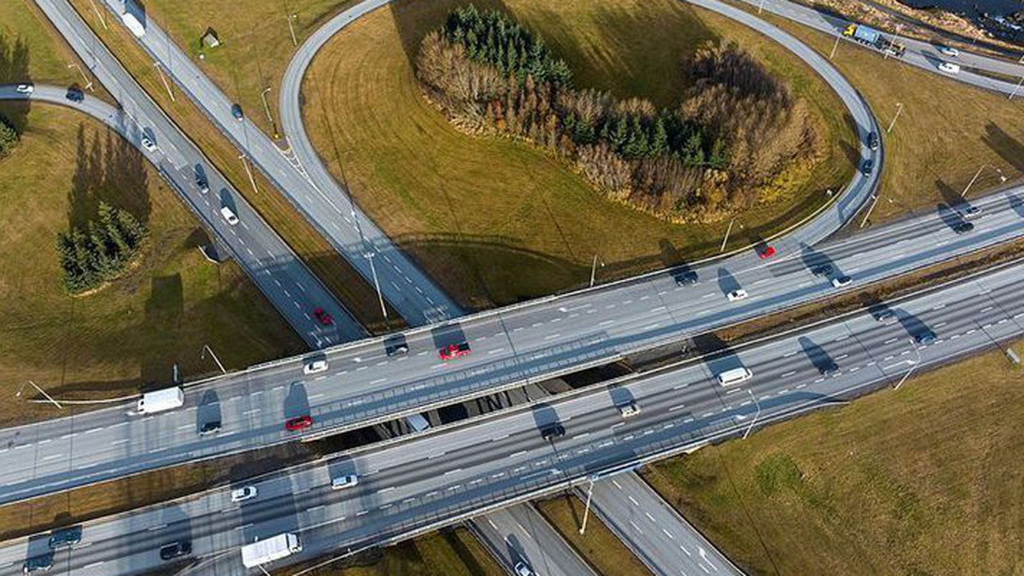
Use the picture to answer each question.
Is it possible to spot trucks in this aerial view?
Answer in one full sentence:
Yes, there is a truck in the image.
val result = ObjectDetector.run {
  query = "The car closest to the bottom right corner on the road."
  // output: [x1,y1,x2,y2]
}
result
[913,331,936,344]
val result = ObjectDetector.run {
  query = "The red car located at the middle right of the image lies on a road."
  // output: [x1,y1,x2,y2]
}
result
[756,246,776,260]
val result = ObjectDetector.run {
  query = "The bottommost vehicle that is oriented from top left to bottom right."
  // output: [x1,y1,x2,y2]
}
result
[509,553,534,576]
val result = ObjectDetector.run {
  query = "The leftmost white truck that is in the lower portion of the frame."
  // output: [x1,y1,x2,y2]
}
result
[136,386,187,416]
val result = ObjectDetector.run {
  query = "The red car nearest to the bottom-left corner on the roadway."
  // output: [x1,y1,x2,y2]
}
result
[285,415,313,431]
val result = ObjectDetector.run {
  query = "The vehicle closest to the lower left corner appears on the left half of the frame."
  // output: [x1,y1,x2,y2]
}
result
[22,553,56,573]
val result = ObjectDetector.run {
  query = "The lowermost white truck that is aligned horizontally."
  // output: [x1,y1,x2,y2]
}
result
[239,532,306,567]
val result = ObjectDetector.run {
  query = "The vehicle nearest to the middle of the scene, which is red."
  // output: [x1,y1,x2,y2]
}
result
[441,343,469,359]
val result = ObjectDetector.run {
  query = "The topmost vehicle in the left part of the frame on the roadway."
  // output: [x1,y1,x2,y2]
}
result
[122,13,145,36]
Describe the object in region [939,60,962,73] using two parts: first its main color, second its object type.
white vehicle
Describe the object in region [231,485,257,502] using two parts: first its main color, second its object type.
white car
